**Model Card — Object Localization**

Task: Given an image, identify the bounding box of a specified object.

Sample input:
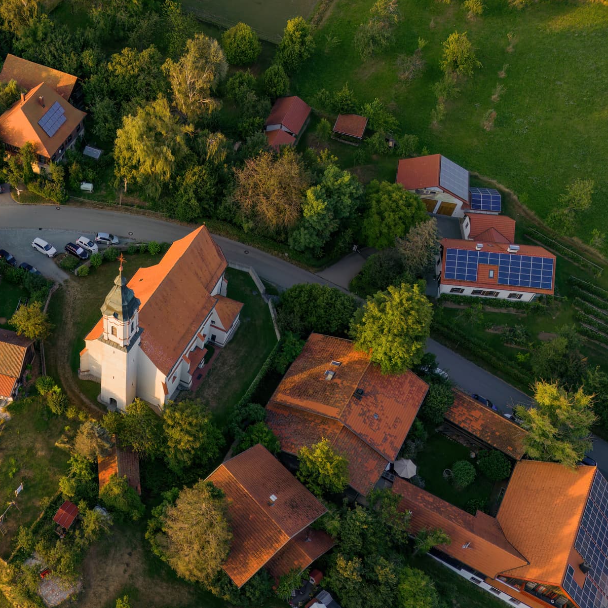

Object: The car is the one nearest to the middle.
[435,358,459,384]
